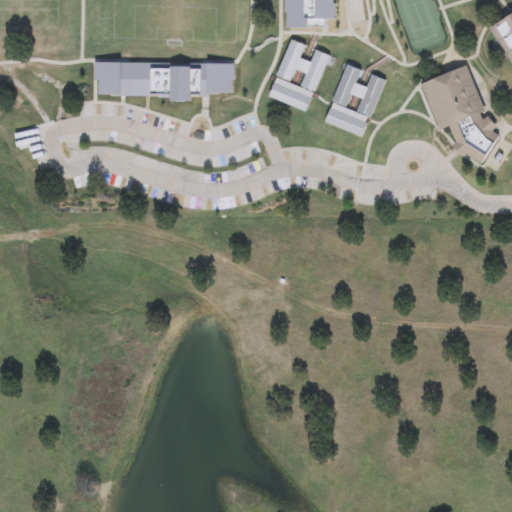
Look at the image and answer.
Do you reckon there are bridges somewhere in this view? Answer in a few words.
No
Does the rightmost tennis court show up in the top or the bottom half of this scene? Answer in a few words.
top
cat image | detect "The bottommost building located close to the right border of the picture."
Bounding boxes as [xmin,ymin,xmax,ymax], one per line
[422,62,502,162]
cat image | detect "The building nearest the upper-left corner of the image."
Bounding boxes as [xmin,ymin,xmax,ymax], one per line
[94,61,235,101]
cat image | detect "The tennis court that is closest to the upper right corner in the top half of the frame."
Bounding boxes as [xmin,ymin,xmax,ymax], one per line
[394,0,445,53]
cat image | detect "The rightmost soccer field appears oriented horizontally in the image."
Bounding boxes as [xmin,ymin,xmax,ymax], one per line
[100,0,237,42]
